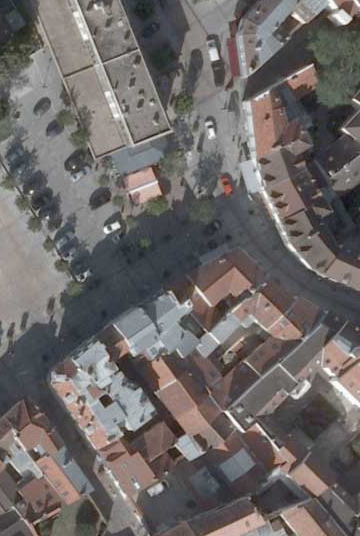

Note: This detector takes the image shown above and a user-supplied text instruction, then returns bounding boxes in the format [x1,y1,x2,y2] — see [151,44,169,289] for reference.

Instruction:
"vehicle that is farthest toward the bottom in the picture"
[142,482,165,500]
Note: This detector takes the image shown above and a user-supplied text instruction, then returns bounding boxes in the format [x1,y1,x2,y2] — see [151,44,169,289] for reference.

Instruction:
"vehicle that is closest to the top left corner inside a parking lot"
[33,100,49,116]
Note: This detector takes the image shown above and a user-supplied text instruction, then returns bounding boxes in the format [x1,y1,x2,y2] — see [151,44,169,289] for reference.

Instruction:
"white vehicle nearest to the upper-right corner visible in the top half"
[206,38,219,61]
